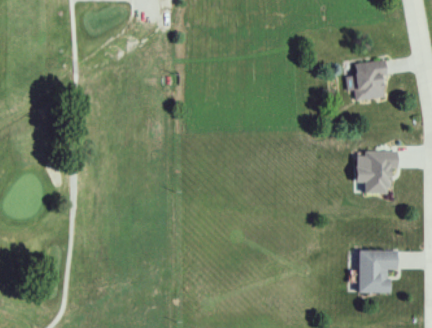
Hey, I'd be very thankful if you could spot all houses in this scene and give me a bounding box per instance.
[358,151,400,194]
[346,62,388,100]
[350,250,399,294]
